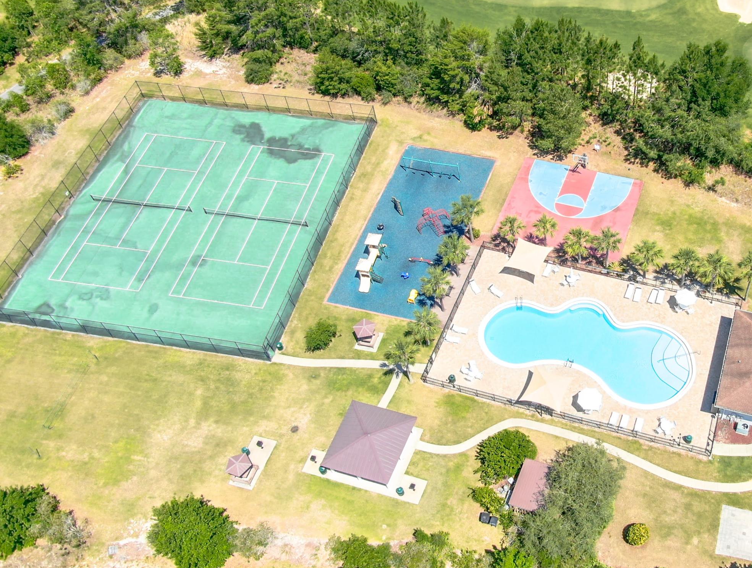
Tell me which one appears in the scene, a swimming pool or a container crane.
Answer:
swimming pool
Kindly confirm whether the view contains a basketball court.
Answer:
Yes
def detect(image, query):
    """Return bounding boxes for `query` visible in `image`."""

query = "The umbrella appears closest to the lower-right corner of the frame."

[576,389,603,412]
